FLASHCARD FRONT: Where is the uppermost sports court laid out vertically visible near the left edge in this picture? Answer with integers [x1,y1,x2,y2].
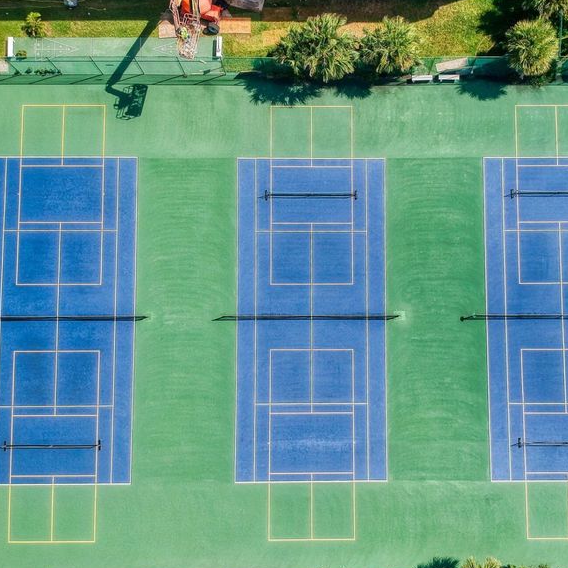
[17,105,106,284]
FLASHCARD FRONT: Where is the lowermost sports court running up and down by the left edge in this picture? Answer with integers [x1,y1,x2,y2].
[7,351,99,543]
